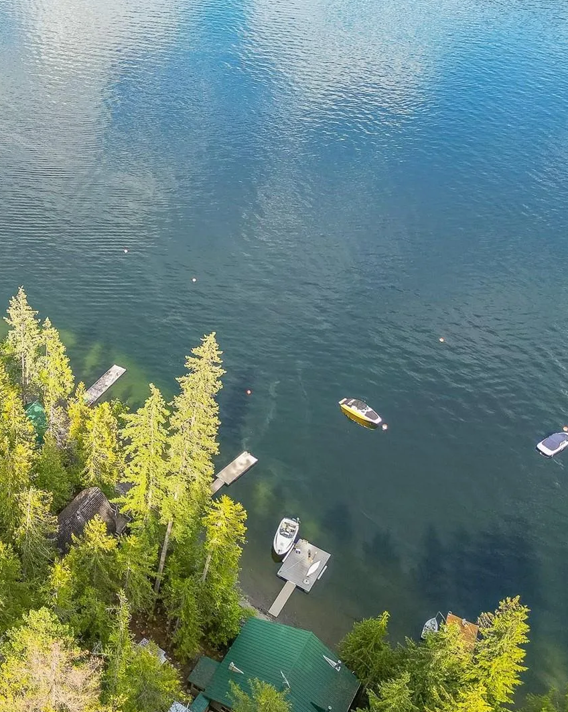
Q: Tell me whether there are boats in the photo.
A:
Yes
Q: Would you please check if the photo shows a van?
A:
No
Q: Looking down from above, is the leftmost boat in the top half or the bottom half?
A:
bottom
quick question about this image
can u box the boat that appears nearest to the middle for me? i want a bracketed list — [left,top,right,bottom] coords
[333,397,383,423]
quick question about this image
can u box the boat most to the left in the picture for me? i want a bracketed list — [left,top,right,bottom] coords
[276,513,304,558]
